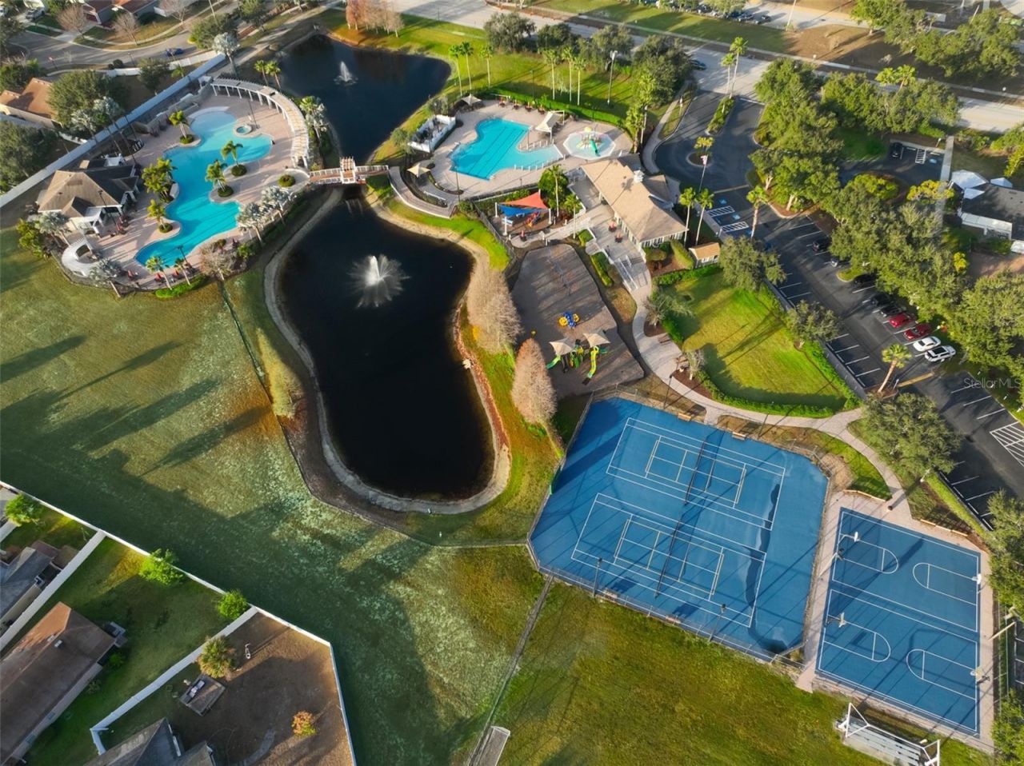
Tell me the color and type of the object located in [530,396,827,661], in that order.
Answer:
blue tennis court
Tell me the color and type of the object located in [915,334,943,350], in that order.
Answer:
white car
